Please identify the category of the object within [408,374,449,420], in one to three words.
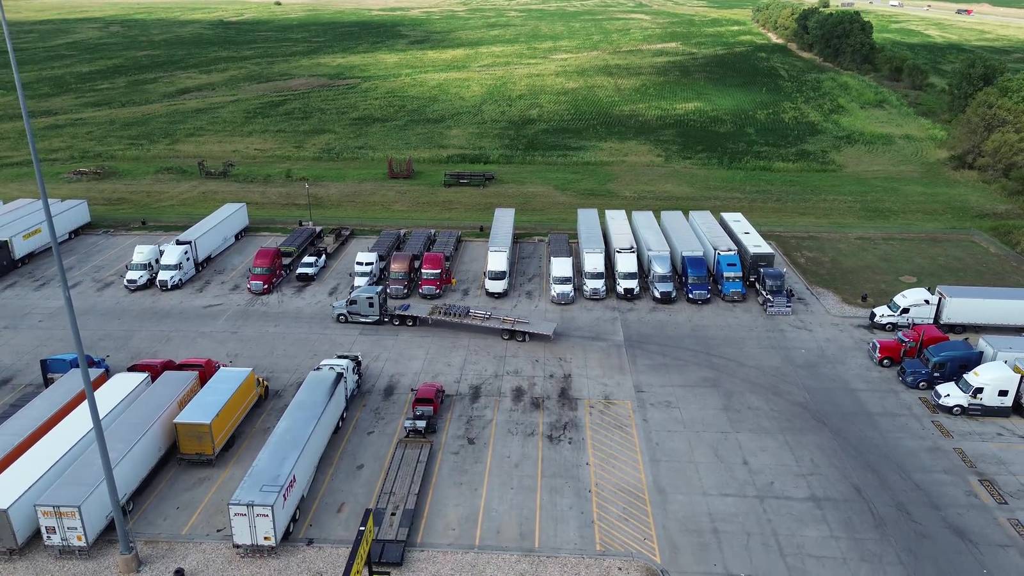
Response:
truck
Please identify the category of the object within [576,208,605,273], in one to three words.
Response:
trailer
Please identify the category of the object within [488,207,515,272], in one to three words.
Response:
trailer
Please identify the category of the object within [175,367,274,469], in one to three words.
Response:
truck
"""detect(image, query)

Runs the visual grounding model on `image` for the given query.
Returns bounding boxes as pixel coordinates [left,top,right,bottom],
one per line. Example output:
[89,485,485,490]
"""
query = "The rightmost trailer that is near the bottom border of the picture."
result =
[363,412,433,567]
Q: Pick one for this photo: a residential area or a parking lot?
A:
parking lot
